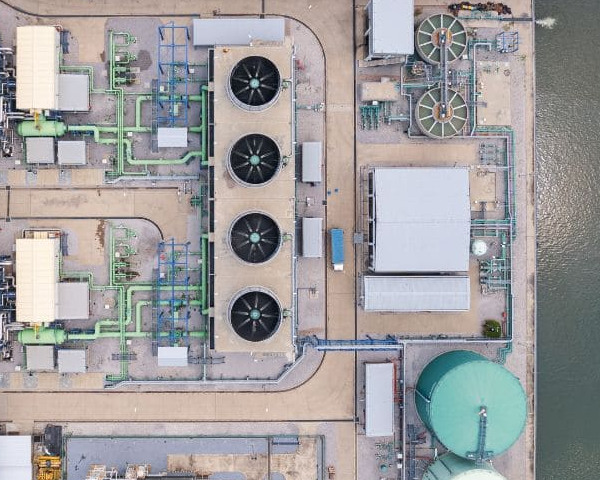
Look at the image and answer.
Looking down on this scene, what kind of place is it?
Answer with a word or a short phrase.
industrial area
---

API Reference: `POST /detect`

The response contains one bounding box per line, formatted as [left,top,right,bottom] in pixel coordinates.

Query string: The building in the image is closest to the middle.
[301,218,322,258]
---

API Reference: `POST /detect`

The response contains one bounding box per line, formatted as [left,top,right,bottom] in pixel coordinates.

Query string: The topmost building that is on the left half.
[192,18,285,49]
